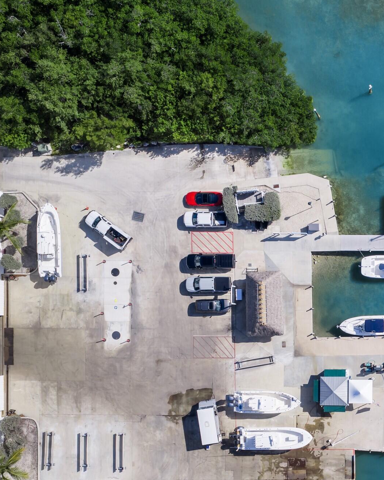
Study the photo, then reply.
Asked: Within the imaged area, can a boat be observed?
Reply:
Yes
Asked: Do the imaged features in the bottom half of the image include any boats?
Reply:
Yes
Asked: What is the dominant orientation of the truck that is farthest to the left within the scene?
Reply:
diagonally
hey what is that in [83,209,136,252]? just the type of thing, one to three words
truck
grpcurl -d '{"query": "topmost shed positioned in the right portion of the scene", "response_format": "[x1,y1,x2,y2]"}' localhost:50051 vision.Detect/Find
[245,270,284,337]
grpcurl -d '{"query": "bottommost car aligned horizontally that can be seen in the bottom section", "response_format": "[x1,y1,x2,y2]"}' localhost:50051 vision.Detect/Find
[195,297,232,314]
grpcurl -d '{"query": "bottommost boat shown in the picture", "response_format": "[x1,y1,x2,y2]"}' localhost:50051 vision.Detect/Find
[230,426,313,451]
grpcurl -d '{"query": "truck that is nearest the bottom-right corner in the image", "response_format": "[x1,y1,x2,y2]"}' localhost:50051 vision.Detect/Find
[199,395,226,446]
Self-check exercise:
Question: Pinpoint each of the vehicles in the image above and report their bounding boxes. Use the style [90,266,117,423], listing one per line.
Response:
[83,209,136,252]
[186,275,233,294]
[195,297,232,314]
[184,209,230,228]
[199,395,226,446]
[185,189,223,209]
[186,251,237,270]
